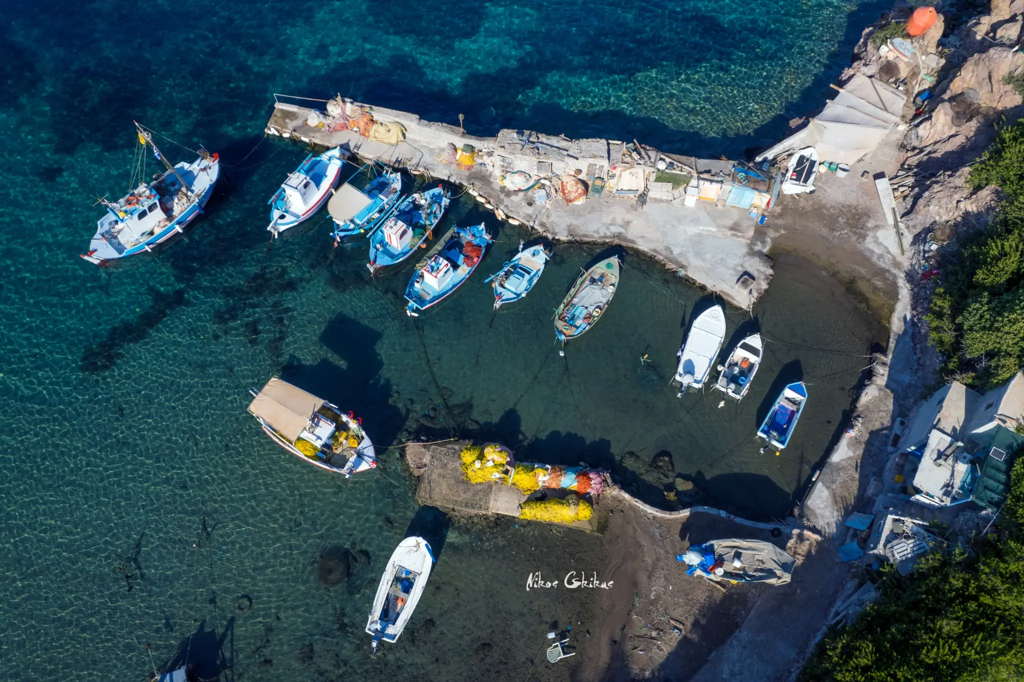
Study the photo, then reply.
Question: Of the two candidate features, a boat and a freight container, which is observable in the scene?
boat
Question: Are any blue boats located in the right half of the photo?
Yes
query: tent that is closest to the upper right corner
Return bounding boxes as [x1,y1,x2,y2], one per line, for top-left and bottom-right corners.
[757,72,907,167]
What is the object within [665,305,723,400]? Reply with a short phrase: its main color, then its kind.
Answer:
white boat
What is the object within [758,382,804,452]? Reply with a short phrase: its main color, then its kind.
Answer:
blue boat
